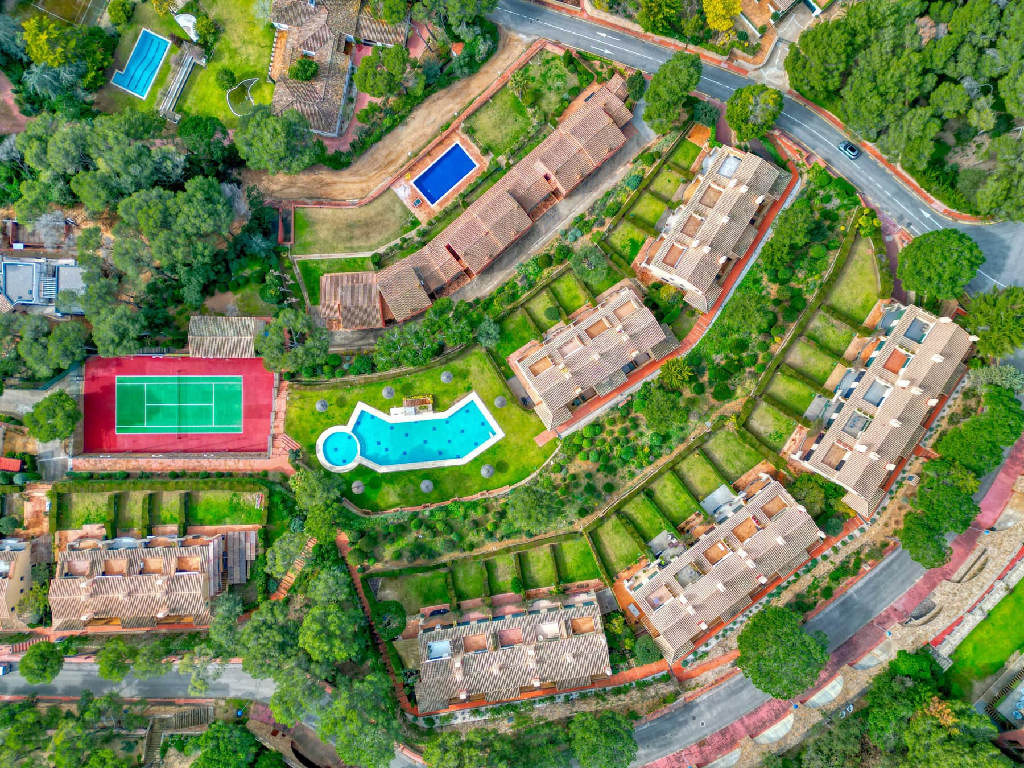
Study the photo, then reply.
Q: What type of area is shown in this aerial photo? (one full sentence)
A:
It's a residential area.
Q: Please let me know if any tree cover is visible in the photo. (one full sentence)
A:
Yes, tree cover can be seen from above here.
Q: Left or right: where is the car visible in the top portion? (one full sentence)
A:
You can find the car visible in the top portion on the right side of the picture.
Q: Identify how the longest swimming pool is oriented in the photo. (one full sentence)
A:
The longest swimming pool is laid out from left to right.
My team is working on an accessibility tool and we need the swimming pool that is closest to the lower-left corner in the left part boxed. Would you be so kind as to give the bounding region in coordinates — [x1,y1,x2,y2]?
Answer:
[315,425,360,473]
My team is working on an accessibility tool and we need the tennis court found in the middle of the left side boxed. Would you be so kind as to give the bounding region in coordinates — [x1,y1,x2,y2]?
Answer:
[83,357,273,453]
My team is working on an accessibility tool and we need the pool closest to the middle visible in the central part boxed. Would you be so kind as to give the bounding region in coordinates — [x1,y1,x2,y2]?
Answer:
[347,391,505,473]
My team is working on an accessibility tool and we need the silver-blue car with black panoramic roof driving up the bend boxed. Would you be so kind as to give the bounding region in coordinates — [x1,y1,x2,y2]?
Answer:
[838,139,864,160]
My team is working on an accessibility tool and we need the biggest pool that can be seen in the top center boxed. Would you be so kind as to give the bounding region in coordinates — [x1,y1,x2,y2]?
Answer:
[410,140,480,207]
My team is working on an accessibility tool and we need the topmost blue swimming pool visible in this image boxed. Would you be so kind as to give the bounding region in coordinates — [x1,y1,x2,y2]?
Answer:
[110,28,171,100]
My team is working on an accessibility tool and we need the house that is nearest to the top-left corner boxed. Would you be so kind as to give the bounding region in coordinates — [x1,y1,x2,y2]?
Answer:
[0,263,98,315]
